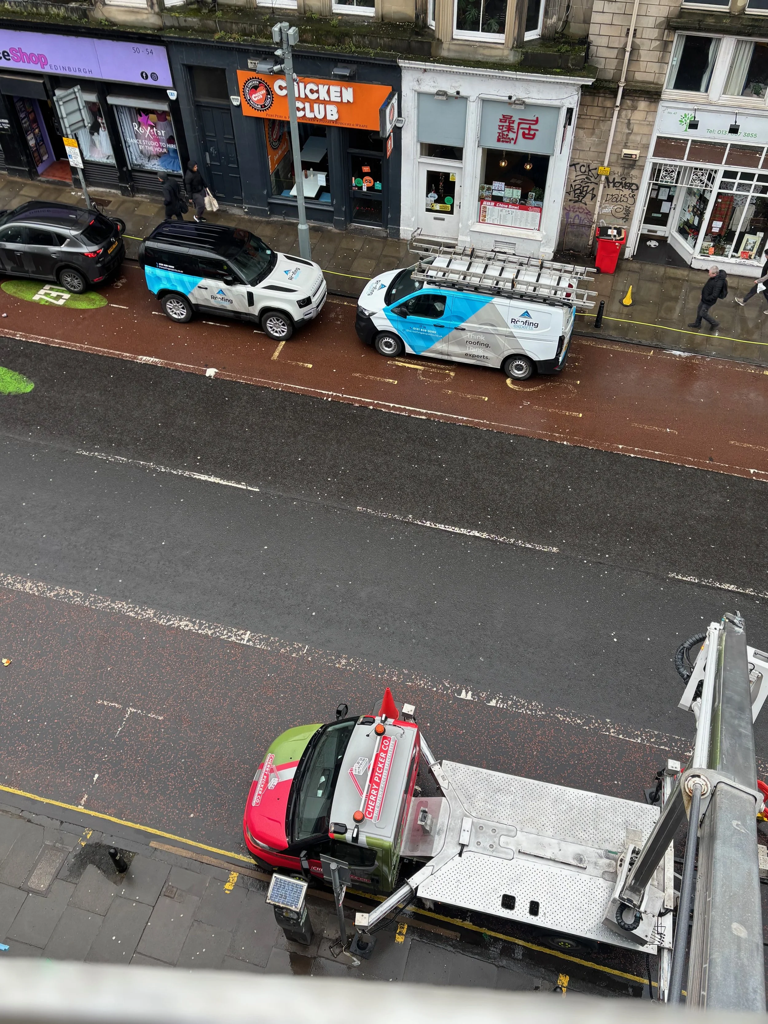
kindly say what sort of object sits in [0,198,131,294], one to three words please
car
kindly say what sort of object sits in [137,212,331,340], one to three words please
car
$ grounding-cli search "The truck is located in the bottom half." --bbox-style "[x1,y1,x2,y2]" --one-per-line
[245,609,768,1010]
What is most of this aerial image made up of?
paved ground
